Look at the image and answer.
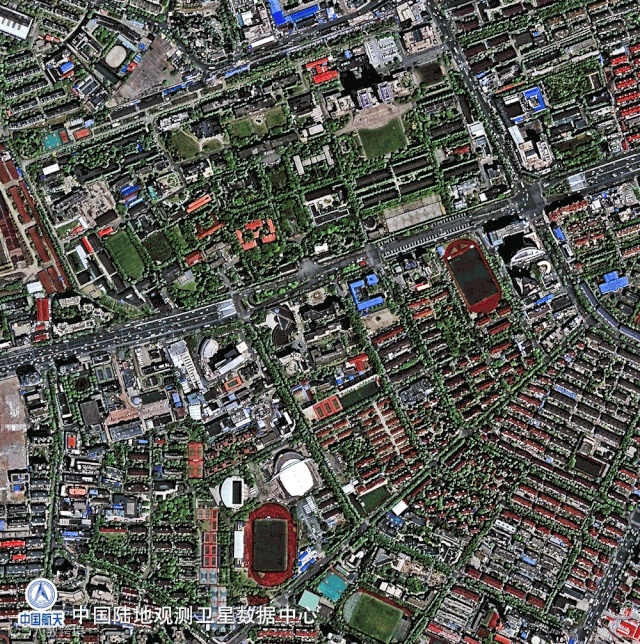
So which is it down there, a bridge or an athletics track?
athletics track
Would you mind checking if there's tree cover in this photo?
Yes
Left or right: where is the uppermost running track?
right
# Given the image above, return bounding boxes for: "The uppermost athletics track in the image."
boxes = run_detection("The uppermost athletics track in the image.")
[446,240,502,313]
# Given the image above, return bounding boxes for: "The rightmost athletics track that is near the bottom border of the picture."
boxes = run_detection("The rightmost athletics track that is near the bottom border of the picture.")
[343,590,413,644]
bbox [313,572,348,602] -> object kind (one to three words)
basketball court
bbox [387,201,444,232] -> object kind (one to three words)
basketball court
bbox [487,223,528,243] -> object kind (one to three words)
building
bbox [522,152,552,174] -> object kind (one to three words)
building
